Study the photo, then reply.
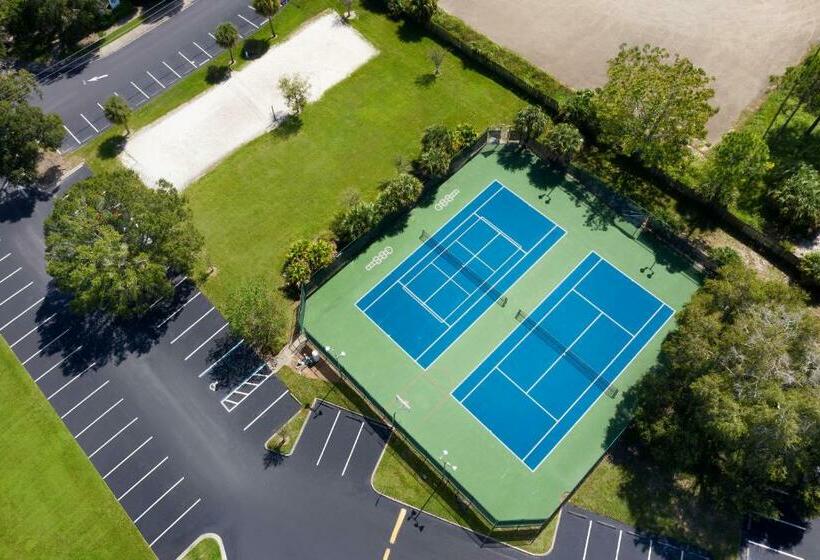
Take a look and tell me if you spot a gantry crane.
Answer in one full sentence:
No, this view has no gantry crane in it.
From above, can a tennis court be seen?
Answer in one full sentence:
Yes, the photo shows a tennis court.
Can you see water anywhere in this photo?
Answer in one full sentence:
No, the scene doesn't show any water.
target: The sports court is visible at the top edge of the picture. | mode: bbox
[113,6,380,192]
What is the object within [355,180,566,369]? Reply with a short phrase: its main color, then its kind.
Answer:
blue tennis court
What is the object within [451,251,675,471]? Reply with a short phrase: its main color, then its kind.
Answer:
blue tennis court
